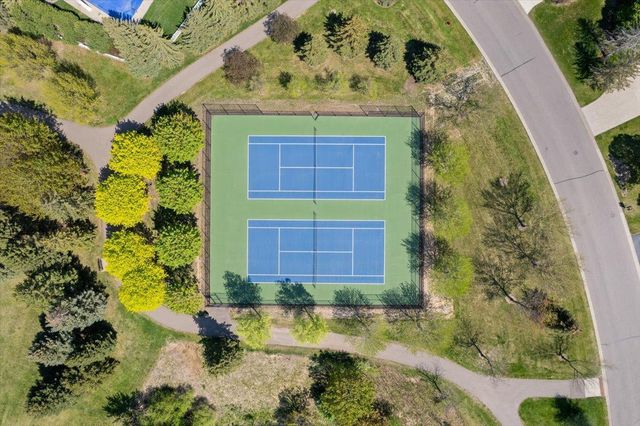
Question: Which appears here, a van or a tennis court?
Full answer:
There is a tennis court in the scene.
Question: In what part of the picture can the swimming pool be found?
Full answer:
The swimming pool is located in the top left region of the scene.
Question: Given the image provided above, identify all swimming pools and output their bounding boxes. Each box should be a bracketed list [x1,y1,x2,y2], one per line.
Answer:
[64,0,152,25]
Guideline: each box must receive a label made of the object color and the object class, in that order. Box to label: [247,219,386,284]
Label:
blue tennis court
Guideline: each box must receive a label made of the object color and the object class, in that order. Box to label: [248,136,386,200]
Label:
blue tennis court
